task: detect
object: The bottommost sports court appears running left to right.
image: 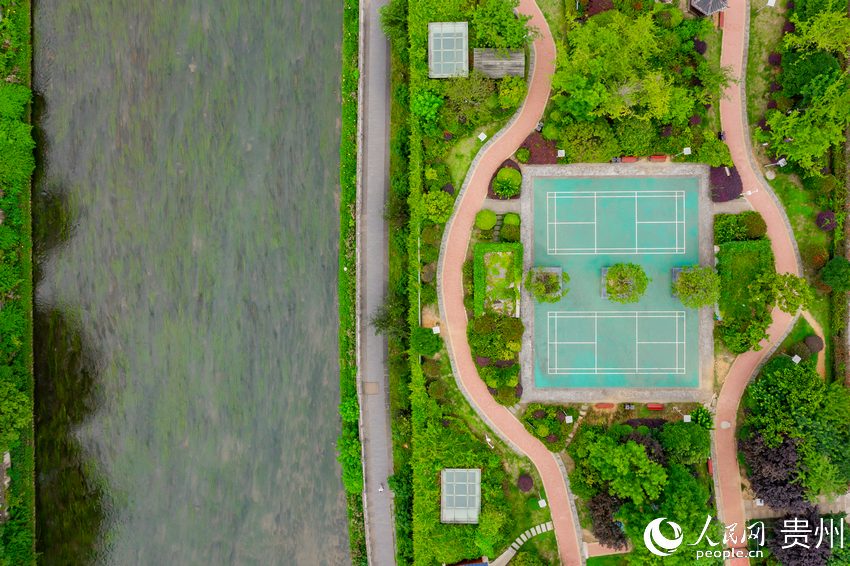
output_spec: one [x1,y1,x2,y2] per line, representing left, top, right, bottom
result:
[548,311,686,373]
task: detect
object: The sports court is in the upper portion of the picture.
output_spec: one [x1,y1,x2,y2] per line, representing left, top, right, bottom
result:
[547,191,686,254]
